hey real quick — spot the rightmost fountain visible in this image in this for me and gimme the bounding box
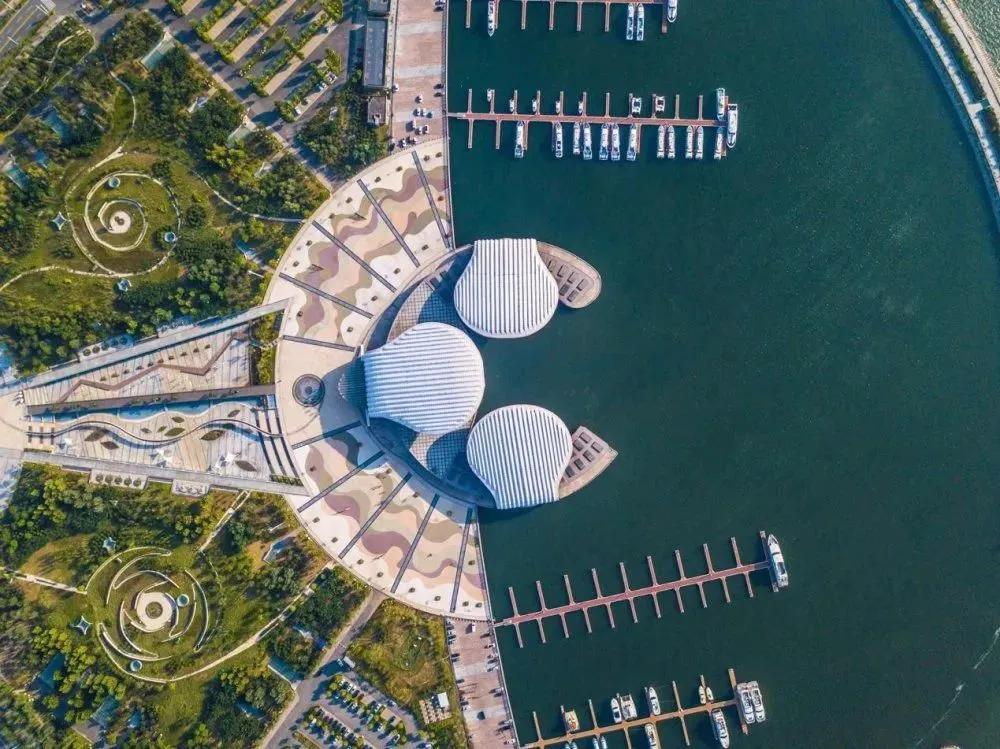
[293,373,325,405]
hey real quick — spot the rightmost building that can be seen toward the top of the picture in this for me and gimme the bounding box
[454,238,559,338]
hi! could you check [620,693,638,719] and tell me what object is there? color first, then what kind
white boat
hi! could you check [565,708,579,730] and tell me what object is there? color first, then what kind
white boat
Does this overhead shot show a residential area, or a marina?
marina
